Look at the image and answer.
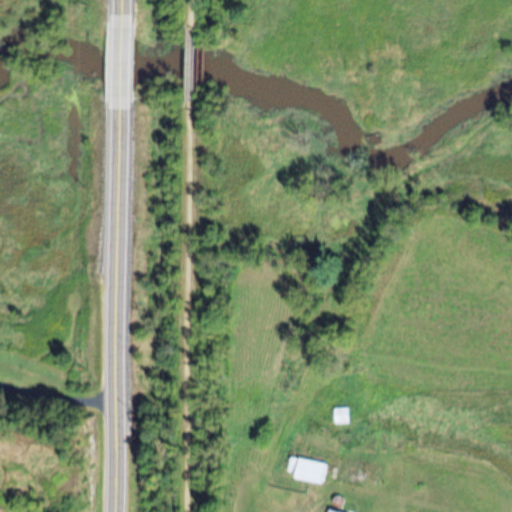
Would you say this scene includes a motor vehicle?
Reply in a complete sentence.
No, no motor vehicle can be seen from above.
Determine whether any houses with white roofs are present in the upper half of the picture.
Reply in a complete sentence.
No, no house with a white roof appears in the upper half of the picture.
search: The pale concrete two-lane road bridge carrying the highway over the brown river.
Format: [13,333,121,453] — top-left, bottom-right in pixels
[105,14,135,110]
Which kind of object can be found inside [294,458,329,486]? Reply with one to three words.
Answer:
house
